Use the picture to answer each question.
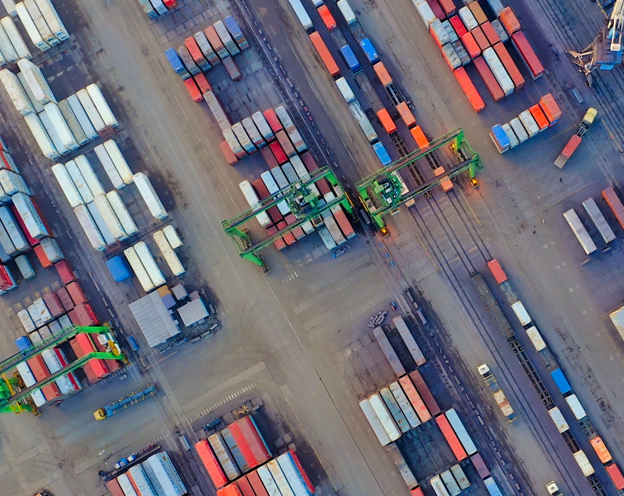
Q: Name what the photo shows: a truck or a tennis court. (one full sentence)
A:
The one in the frame is a truck.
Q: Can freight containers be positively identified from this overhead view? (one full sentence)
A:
Yes, a freight container is visible in the scene.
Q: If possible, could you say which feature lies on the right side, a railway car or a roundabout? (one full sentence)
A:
There is a railway car on the right side.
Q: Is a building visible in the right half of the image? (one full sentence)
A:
No, there is no building in the right half of the image.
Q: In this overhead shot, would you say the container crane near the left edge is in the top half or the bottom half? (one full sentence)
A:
Seen from above, the container crane near the left edge lies in the bottom half of the view.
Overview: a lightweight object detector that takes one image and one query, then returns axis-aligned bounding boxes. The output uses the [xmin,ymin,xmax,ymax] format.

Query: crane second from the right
[353,121,483,239]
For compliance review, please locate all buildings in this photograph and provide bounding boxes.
[177,299,212,327]
[172,283,189,300]
[129,290,182,348]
